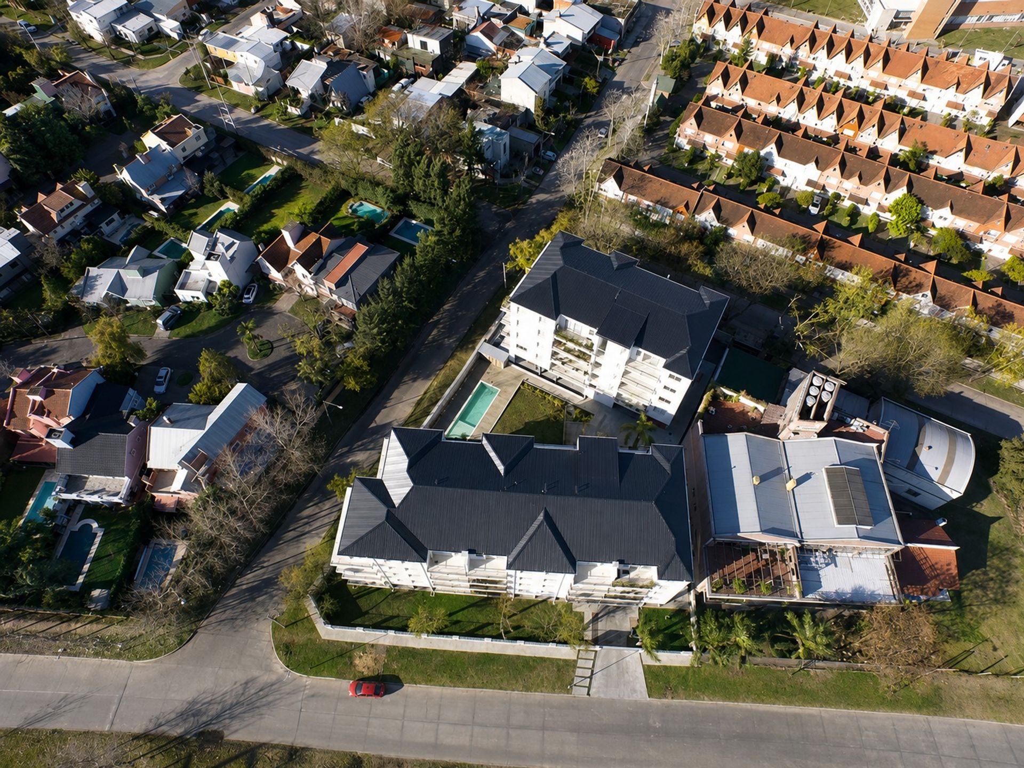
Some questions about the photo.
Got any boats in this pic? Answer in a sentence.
No, no boat can be seen from above.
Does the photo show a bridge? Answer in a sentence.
No, I find no bridge anywhere in the image.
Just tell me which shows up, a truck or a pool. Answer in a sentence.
Visible in the photo is a pool.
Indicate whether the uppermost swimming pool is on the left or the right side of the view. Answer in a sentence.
The uppermost swimming pool sits on the left side.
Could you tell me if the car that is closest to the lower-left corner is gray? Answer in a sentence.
No, the color of the car that is closest to the lower-left corner is red.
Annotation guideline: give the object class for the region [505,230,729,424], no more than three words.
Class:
building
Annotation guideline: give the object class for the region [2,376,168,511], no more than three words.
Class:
house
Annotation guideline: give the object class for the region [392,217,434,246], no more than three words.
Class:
swimming pool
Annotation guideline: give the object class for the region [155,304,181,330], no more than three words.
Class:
car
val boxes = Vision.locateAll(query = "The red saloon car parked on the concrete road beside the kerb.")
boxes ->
[348,678,386,698]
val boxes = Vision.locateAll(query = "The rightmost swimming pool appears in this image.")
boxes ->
[446,380,499,442]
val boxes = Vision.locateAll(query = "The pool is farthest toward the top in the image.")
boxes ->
[243,164,284,195]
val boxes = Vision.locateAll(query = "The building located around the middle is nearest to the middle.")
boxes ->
[485,350,511,377]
